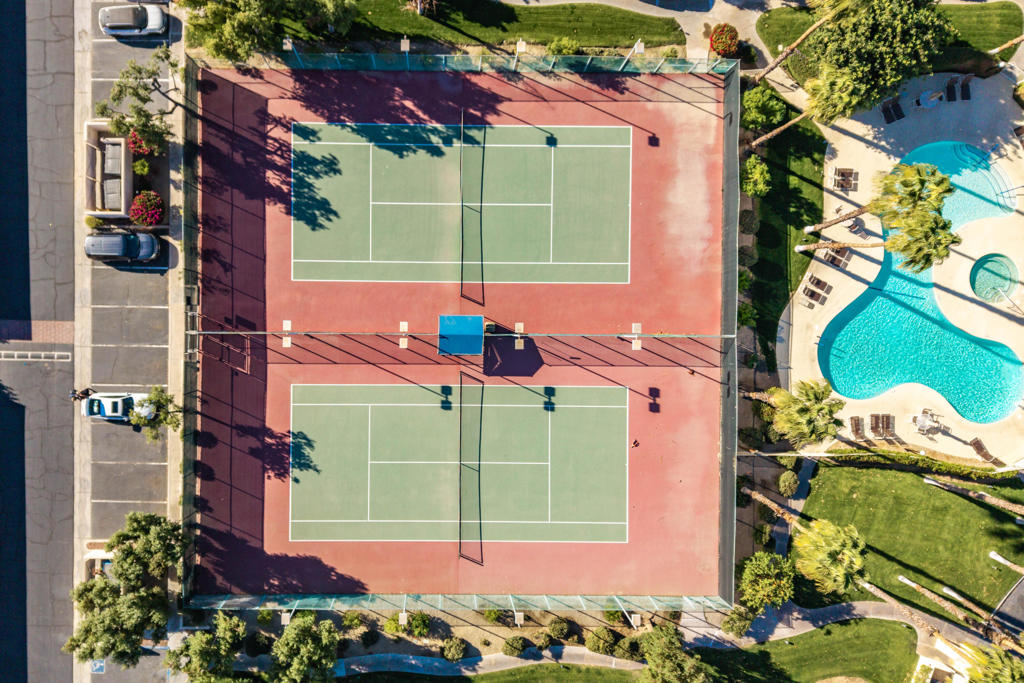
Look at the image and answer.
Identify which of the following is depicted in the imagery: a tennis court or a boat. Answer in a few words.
tennis court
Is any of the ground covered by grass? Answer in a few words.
Yes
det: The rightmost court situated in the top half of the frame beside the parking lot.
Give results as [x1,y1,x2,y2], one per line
[198,68,725,335]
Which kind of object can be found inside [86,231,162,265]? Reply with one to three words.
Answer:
car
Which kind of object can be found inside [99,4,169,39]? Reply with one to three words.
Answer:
car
